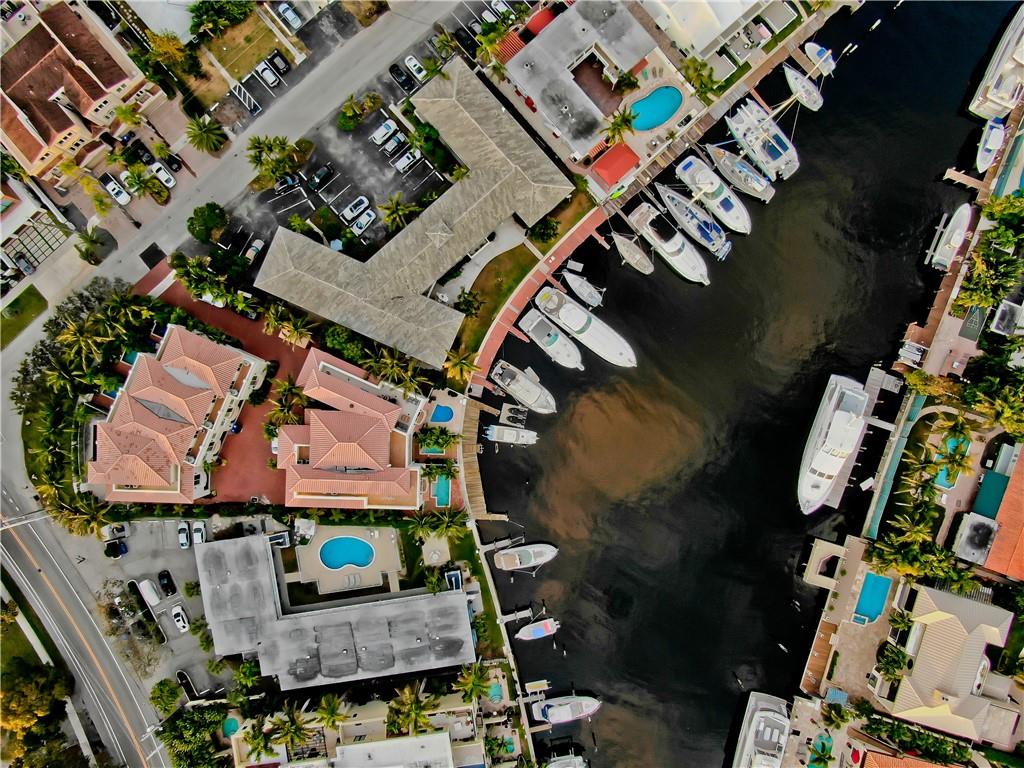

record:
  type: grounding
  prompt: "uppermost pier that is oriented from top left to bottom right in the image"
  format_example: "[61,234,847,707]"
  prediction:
[791,48,820,81]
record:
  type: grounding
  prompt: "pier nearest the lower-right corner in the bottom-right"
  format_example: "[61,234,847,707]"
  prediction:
[802,539,844,589]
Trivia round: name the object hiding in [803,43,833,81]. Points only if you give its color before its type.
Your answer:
white boat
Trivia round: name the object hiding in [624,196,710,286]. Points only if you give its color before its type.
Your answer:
white boat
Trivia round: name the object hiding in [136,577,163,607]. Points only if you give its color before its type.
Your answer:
white car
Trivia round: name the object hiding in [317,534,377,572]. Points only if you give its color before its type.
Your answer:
blue swimming pool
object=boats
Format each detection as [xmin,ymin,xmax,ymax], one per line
[508,408,526,416]
[557,269,601,306]
[485,426,536,444]
[541,748,592,768]
[604,222,648,272]
[728,691,789,768]
[506,416,525,424]
[698,125,774,206]
[486,538,559,574]
[624,196,710,286]
[798,369,873,515]
[711,250,730,269]
[648,180,734,256]
[514,614,559,638]
[725,102,796,182]
[668,151,750,232]
[512,306,585,371]
[974,115,1010,171]
[532,690,602,725]
[529,276,637,366]
[929,205,975,271]
[487,349,556,412]
[780,49,838,112]
[803,43,833,81]
[960,0,1024,125]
